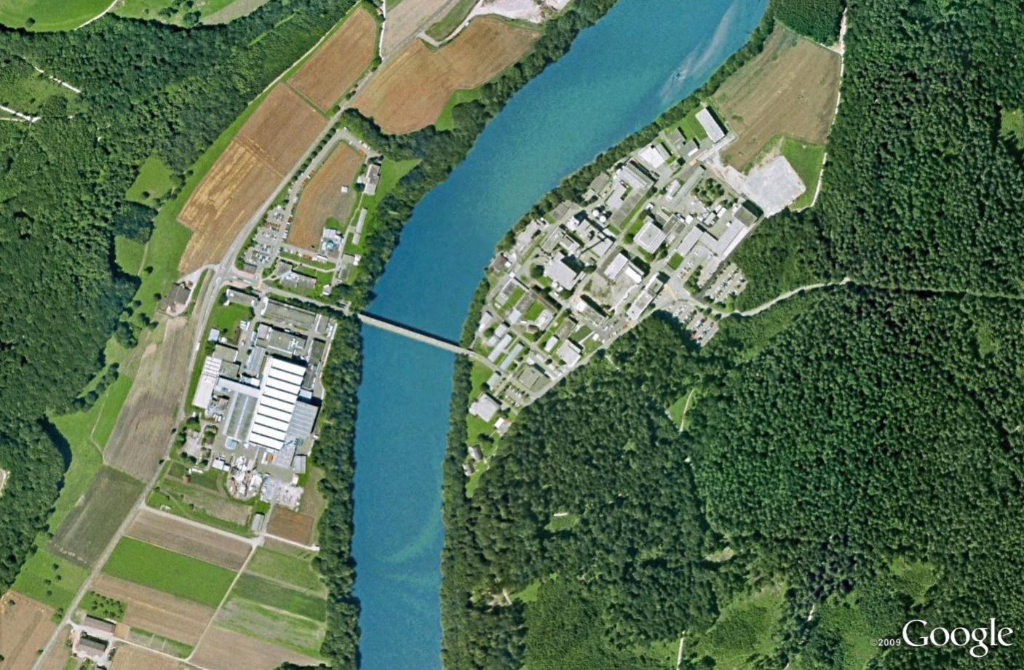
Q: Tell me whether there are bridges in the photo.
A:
Yes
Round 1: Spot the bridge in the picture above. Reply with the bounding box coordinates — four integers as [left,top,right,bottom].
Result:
[354,314,469,356]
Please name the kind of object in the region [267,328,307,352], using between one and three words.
building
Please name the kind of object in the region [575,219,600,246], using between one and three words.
building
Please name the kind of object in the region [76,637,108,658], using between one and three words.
house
